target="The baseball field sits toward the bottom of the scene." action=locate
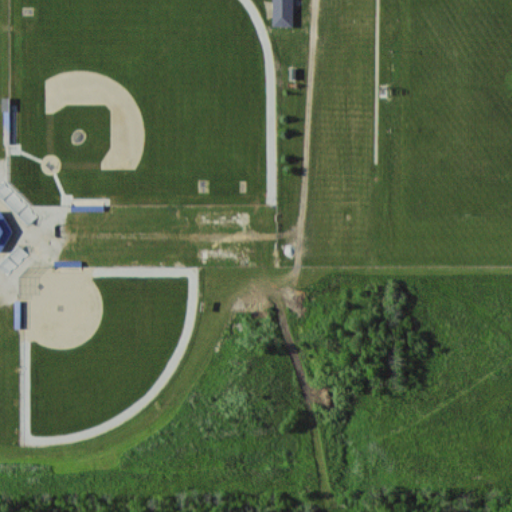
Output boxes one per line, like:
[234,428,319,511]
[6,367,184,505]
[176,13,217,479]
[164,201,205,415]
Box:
[20,267,198,448]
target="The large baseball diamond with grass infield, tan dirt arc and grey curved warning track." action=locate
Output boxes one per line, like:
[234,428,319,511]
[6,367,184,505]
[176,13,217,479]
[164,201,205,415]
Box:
[10,0,276,206]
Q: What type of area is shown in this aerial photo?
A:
sports ground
